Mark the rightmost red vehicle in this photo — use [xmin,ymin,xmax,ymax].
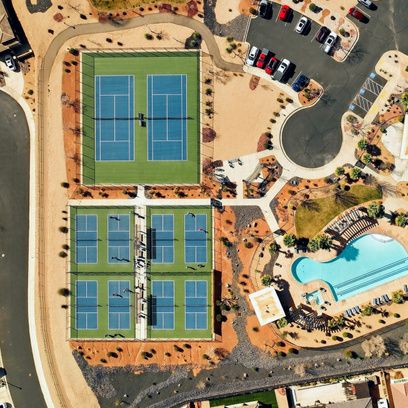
[349,9,367,22]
